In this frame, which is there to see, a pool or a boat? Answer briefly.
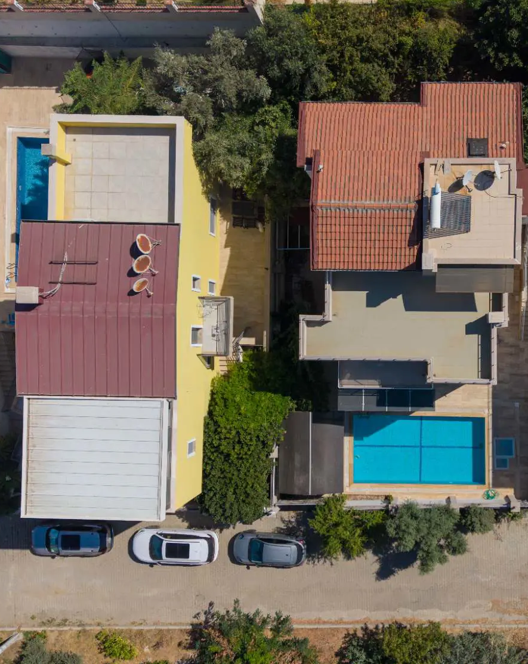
pool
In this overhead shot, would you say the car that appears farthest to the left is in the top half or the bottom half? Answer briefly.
bottom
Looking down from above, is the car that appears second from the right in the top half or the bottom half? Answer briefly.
bottom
